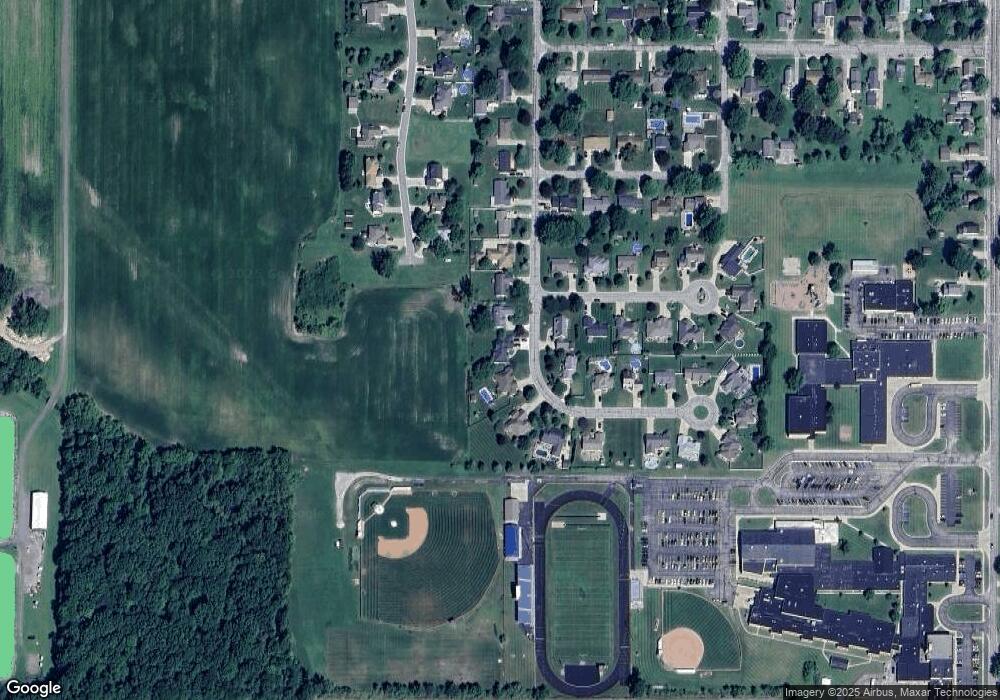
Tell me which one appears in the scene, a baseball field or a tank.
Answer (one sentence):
Looking from above, you can make out a baseball field.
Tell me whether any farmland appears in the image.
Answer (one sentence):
Yes, some farmland is visible.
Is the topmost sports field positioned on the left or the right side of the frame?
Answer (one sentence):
It is on the right.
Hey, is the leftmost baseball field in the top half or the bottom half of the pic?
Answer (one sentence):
It is in the bottom half that the leftmost baseball field appears.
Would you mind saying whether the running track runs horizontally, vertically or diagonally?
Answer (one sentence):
The running track is oriented vertically.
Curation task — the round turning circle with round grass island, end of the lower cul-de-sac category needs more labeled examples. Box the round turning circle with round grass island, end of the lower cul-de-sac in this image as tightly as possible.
[683,394,720,431]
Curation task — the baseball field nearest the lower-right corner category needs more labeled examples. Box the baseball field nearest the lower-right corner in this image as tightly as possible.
[663,590,741,670]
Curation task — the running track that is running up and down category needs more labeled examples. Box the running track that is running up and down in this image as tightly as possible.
[535,483,629,696]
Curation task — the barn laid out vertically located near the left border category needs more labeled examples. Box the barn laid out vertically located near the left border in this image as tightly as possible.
[32,491,47,530]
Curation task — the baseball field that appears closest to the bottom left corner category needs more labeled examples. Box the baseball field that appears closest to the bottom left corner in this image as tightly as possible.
[360,491,498,630]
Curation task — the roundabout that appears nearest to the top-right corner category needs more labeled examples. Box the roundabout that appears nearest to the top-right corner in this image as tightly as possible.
[684,279,719,314]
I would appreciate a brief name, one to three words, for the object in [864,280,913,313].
building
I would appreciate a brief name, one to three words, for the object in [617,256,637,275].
house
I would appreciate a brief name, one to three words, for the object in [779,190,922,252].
sports field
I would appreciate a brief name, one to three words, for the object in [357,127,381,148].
house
